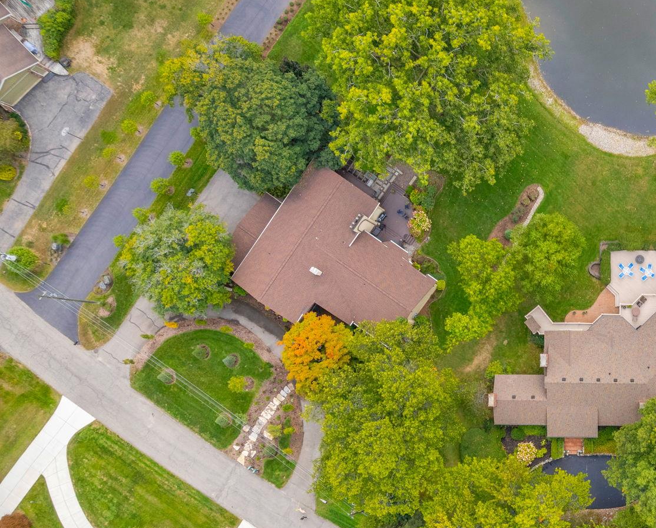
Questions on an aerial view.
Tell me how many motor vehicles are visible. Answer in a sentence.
The picture shows no motor vehicles.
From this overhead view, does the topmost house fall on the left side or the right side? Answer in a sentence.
You can find the topmost house on the left side of the picture.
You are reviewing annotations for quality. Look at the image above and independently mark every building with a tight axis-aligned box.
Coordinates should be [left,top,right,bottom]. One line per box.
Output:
[0,8,54,107]
[488,312,656,438]
[231,158,438,343]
